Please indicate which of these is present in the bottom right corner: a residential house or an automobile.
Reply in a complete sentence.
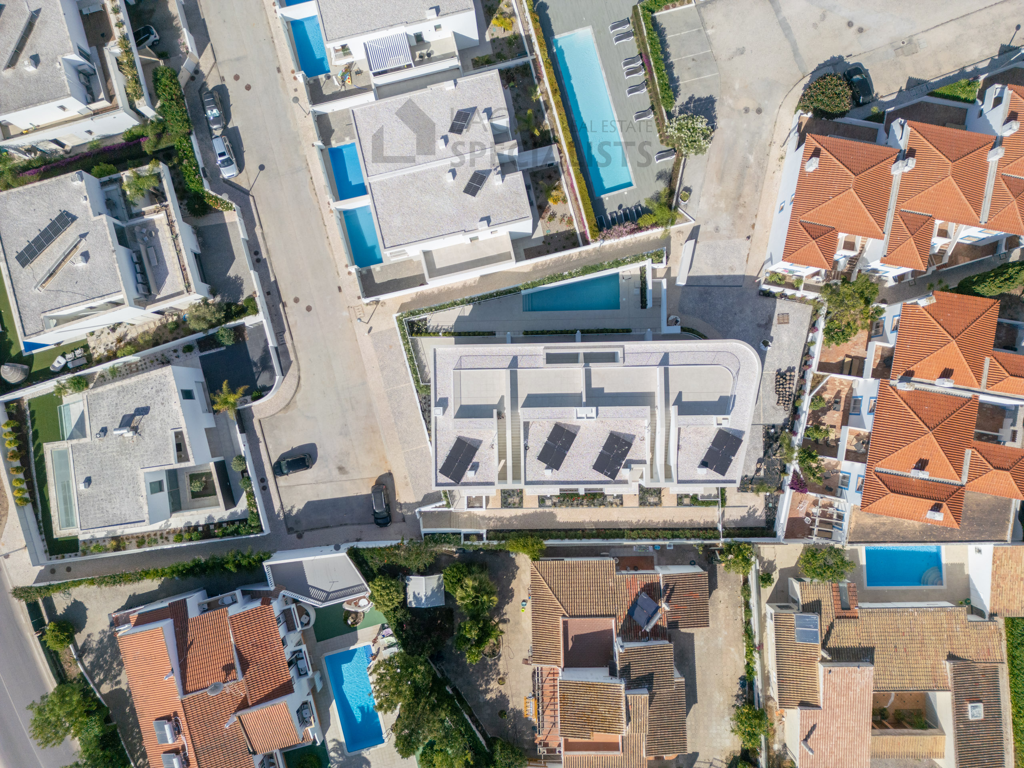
You can see a residential house in the bottom right corner.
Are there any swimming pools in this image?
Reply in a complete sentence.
Yes, the frame does contain a swimming pool.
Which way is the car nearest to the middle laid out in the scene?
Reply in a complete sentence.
The car nearest to the middle runs from top to bottom in the image.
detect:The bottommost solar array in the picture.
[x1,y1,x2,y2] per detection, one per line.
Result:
[795,614,819,643]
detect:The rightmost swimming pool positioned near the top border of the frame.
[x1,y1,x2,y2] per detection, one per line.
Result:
[548,22,638,200]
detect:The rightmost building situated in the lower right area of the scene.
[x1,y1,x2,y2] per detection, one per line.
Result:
[969,539,1024,617]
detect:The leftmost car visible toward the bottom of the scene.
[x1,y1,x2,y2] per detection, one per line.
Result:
[272,453,314,478]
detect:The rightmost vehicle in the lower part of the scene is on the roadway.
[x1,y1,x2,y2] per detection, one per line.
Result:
[370,484,393,528]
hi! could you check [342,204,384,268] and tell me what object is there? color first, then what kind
blue swimming pool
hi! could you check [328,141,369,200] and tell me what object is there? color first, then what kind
blue swimming pool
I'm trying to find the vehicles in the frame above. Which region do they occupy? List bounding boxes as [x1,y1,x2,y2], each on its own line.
[200,88,228,132]
[272,453,314,478]
[370,484,393,528]
[124,27,163,57]
[210,132,242,180]
[846,64,876,105]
